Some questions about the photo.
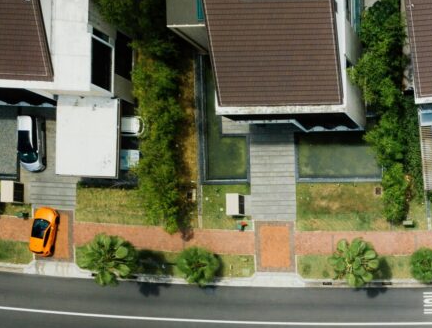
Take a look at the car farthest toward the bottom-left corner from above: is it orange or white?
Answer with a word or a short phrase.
orange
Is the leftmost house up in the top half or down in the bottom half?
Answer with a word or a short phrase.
top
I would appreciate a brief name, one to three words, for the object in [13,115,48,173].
car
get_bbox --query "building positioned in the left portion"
[0,0,137,180]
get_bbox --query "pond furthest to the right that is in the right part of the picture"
[296,129,382,182]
